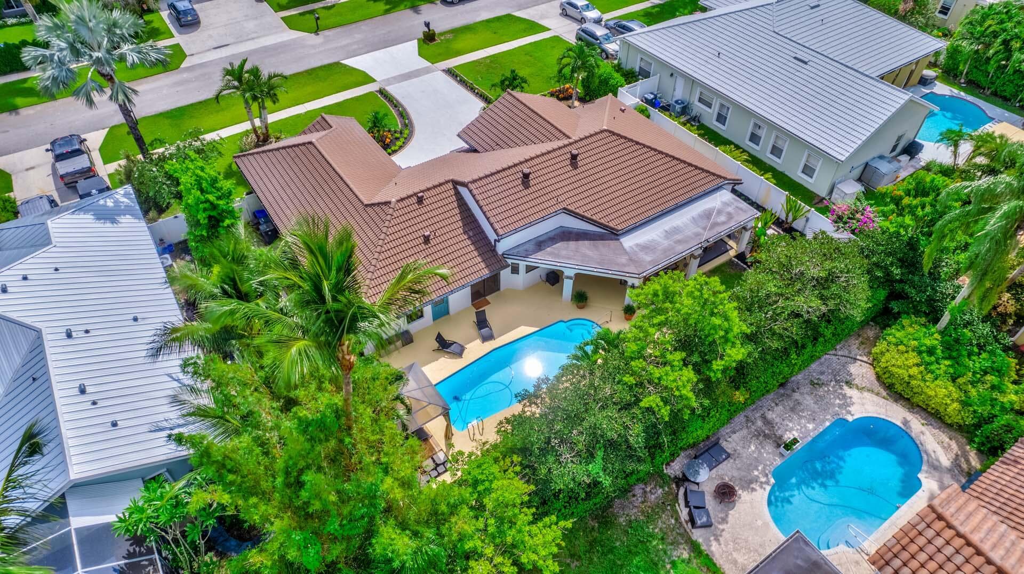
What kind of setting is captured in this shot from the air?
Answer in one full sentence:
What you see here is a residential area.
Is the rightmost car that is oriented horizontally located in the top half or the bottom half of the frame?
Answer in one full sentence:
You can find the rightmost car that is oriented horizontally in the top half.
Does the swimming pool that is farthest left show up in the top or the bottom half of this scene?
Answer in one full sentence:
Seen from above, the swimming pool that is farthest left lies in the bottom half of the view.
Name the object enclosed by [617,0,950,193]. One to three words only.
house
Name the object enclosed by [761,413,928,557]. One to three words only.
swimming pool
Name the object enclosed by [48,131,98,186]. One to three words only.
truck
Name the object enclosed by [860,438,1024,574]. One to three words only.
house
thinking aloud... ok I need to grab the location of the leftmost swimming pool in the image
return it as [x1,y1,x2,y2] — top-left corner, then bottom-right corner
[430,314,613,439]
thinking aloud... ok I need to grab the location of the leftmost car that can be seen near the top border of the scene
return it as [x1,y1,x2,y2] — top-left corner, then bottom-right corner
[163,1,195,28]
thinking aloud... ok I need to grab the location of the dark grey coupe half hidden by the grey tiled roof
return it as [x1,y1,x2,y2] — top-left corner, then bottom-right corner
[602,17,645,37]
